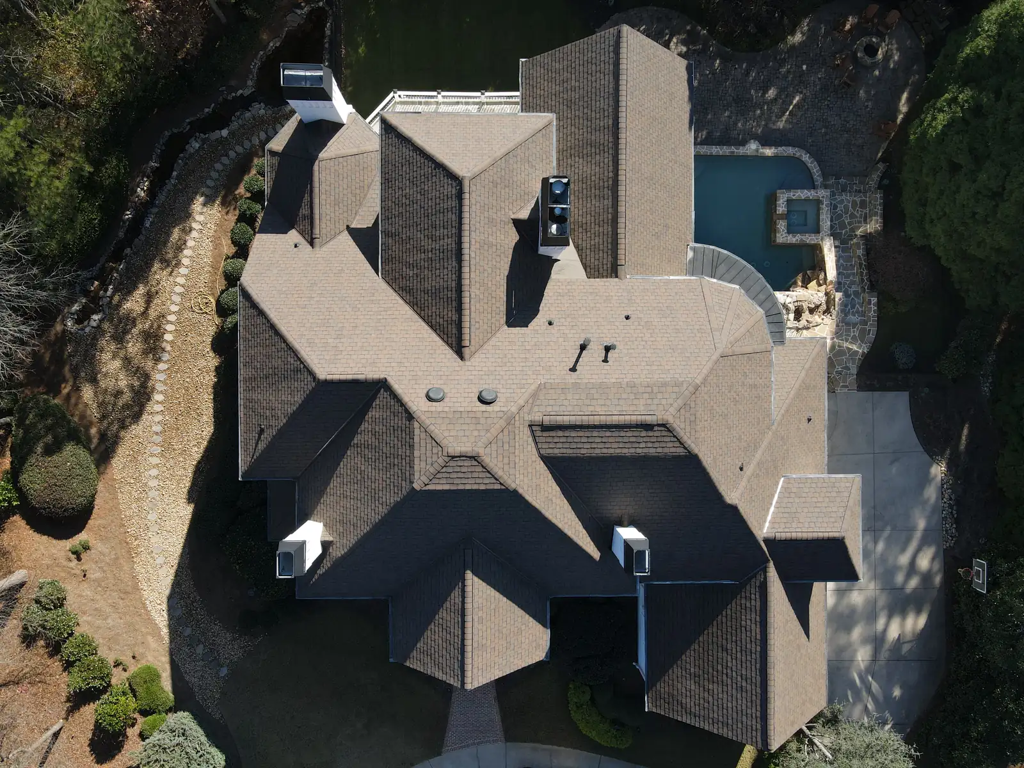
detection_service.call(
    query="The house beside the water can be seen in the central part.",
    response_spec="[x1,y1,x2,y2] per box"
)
[237,24,864,750]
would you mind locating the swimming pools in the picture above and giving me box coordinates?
[696,147,831,298]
